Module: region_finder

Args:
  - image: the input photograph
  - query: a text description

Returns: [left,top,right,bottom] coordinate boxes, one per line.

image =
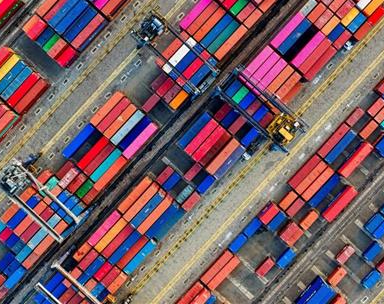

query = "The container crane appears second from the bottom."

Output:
[0,147,101,242]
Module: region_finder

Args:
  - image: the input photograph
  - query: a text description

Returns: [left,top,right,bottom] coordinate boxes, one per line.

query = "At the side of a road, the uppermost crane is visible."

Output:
[127,6,221,101]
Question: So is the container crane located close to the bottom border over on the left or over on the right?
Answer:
left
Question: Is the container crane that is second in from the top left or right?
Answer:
right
